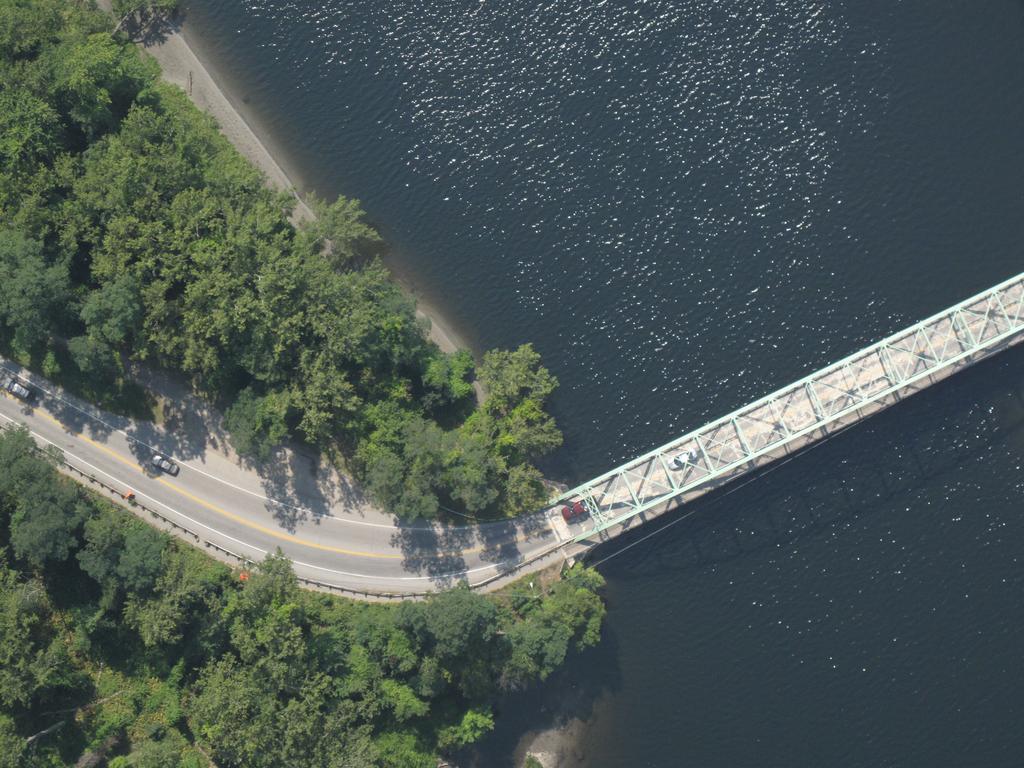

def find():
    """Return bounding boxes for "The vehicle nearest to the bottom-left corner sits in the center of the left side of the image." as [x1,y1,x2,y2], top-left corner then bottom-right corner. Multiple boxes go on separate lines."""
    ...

[149,454,180,477]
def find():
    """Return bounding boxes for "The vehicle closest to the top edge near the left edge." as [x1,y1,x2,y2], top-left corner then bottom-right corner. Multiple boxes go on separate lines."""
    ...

[0,375,32,398]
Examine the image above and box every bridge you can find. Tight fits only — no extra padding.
[546,269,1024,567]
